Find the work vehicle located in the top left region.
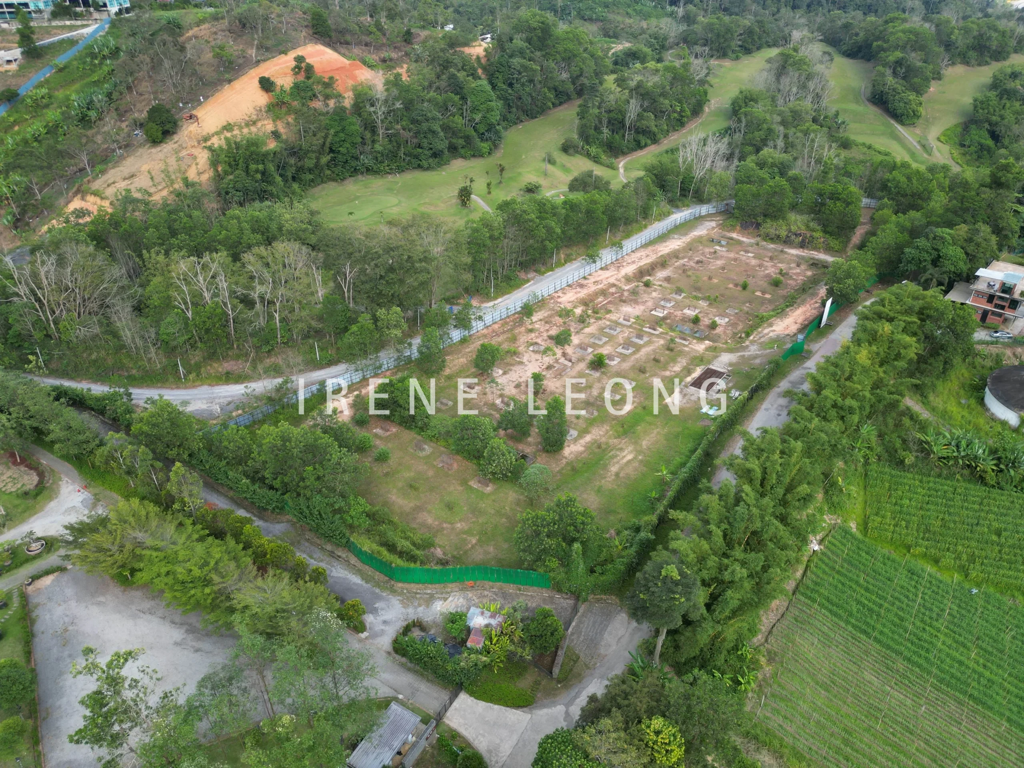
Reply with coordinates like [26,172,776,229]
[181,108,204,122]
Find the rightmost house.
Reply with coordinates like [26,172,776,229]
[922,258,1024,330]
